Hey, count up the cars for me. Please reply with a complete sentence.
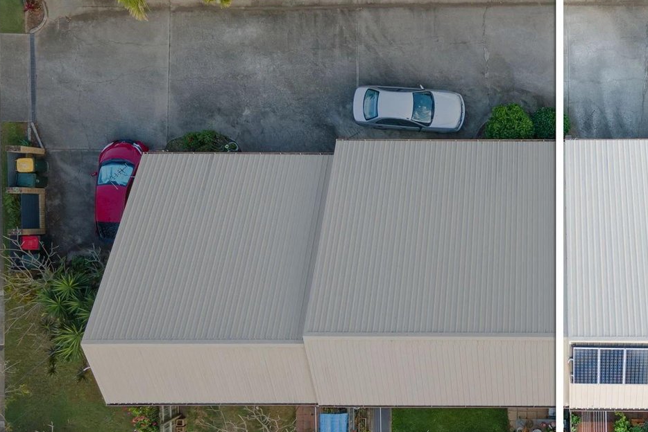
There are 2 cars in the image.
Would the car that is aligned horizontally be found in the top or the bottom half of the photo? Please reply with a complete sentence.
You can find the car that is aligned horizontally in the top half.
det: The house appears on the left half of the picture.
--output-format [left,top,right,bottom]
[81,149,335,409]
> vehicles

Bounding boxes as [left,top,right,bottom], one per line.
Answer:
[96,142,146,238]
[355,86,464,132]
